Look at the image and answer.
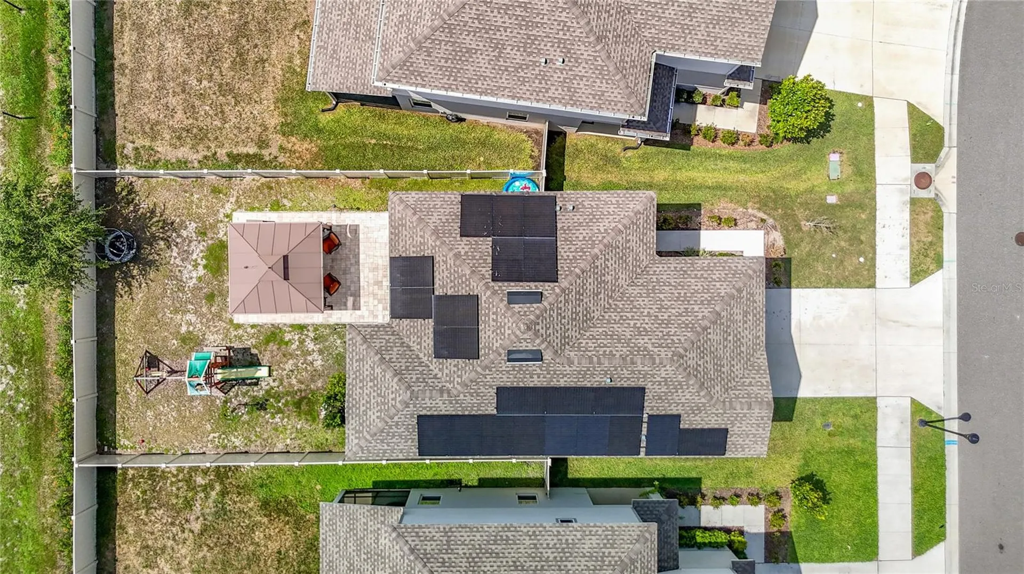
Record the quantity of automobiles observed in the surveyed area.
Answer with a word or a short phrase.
none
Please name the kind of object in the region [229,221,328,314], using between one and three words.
gazebo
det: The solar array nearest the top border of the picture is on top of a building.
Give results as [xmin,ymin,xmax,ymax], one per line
[459,195,559,282]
